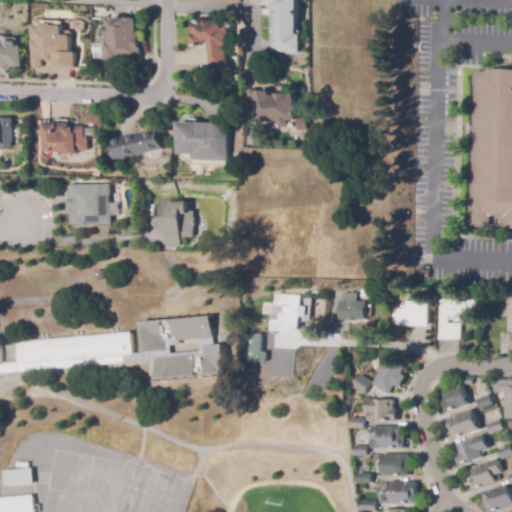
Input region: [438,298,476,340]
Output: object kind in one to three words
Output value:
house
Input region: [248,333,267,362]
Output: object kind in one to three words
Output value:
house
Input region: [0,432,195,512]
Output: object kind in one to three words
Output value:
sports court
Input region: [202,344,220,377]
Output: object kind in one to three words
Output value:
building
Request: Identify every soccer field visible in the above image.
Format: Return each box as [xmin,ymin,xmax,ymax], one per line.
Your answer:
[238,486,330,512]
